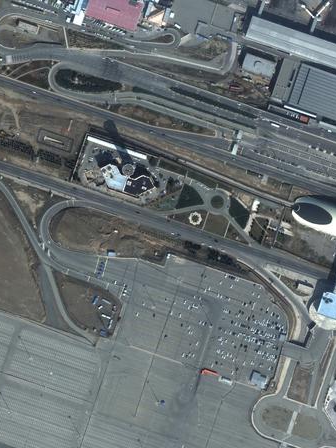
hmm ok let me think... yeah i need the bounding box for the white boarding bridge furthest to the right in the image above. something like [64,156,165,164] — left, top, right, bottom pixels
[301,1,331,32]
